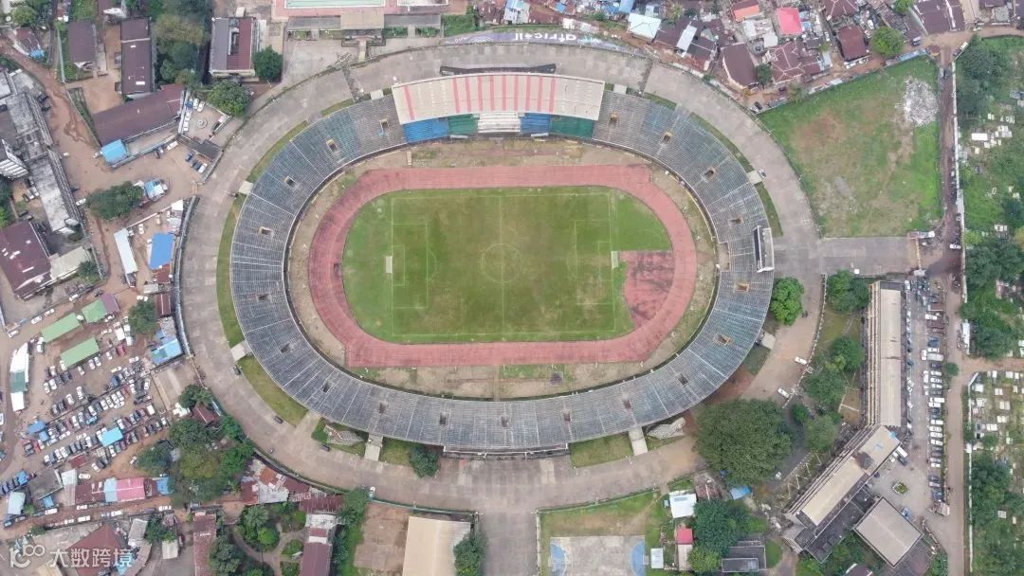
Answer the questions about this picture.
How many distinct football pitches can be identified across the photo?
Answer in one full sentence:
There is 1 football pitch in the image.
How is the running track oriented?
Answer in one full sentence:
In this picture, the running track lies from left to right.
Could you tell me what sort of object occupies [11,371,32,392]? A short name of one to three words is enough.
shed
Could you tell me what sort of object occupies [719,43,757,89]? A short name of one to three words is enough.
house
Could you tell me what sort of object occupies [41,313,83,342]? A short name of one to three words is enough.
building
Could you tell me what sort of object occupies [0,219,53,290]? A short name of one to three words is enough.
building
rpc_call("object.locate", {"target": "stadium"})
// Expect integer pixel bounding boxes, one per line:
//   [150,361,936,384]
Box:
[230,63,775,461]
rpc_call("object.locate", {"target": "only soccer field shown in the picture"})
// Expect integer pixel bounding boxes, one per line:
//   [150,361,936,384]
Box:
[342,186,672,344]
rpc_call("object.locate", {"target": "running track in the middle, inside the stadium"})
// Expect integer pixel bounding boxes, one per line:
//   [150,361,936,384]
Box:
[309,165,697,367]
